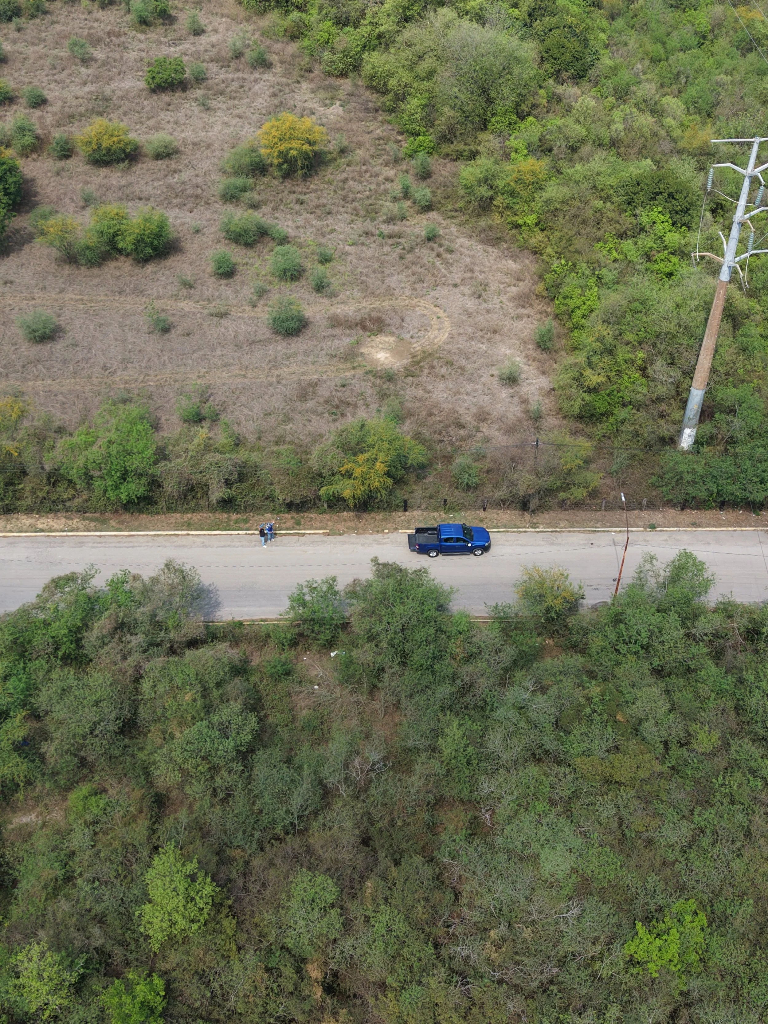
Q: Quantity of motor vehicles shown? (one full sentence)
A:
In total, there is 1 motor vehicle in the scene.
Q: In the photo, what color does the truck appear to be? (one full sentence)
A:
The truck is blue.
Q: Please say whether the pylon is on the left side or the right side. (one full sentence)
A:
It is on the right.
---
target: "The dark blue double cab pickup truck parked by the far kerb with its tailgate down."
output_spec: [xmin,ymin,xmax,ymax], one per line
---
[408,521,491,557]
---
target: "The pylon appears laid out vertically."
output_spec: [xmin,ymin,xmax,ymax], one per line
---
[676,136,768,452]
